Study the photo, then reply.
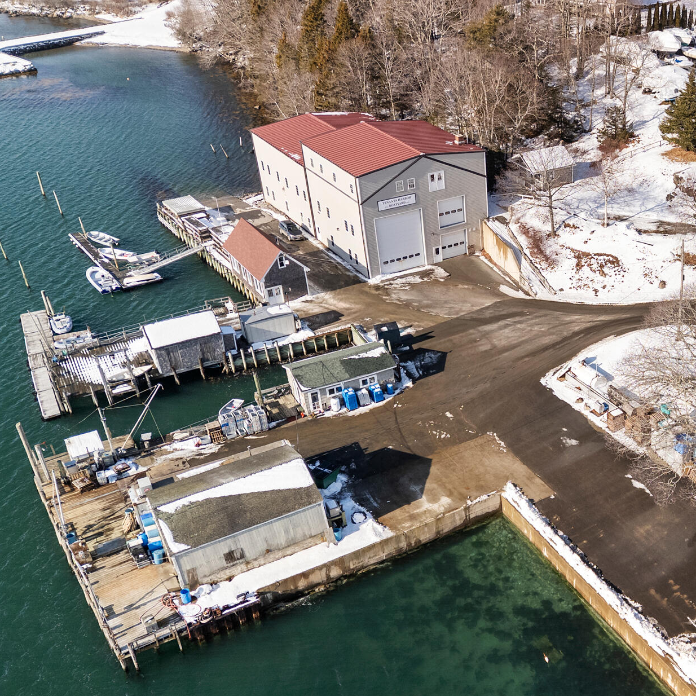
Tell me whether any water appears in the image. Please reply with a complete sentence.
Yes, some water is visible.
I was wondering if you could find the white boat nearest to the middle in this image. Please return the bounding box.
[218,396,246,413]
